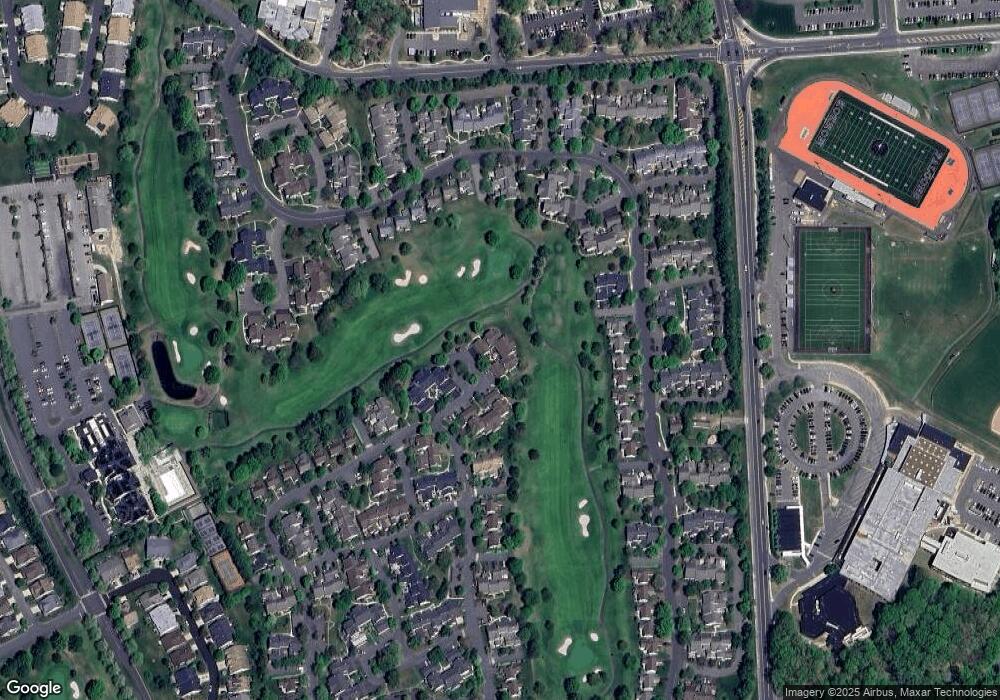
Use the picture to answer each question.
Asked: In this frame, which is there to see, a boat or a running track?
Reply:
running track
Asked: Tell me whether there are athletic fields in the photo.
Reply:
Yes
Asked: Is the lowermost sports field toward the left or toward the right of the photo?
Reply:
right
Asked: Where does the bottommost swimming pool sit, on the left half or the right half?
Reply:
left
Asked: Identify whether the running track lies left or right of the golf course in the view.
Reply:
to its right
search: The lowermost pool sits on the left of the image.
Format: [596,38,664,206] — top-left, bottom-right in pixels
[159,469,186,503]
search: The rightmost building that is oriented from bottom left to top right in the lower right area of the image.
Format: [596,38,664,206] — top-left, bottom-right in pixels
[801,422,973,650]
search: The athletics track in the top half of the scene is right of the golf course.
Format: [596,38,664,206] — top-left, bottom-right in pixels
[778,80,968,228]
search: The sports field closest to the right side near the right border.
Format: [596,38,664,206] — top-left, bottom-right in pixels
[932,318,1000,440]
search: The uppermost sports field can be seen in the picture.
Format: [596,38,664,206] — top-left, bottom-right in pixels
[809,91,949,207]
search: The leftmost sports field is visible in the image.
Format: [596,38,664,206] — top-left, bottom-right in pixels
[794,226,871,353]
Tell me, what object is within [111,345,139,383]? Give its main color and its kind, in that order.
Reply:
gray tennis court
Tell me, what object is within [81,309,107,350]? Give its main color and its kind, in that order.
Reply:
gray tennis court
